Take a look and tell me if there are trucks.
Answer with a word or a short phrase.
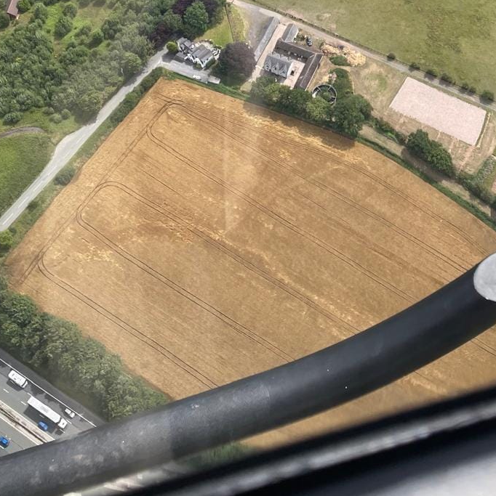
Yes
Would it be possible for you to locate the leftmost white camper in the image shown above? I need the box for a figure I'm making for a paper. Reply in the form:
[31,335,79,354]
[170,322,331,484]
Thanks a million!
[8,369,28,388]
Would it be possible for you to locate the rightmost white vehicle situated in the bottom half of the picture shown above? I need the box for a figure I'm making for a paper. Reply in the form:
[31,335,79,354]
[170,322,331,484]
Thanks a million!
[62,406,77,420]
